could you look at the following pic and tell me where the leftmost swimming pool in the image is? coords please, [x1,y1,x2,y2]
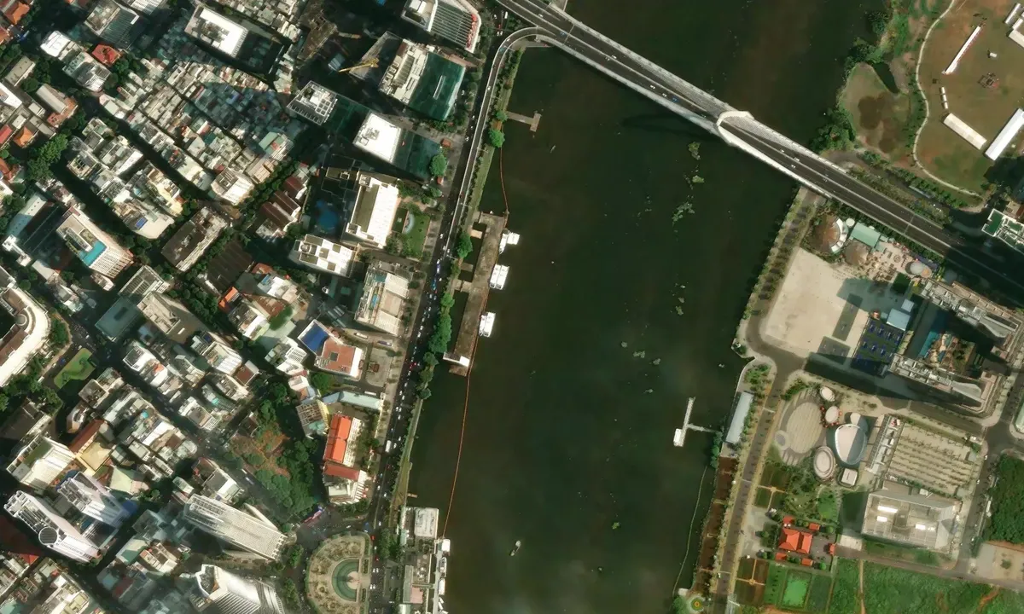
[80,240,107,266]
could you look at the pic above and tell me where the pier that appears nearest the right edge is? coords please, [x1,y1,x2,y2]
[673,397,721,446]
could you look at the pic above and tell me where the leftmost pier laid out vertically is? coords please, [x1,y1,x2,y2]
[415,540,451,614]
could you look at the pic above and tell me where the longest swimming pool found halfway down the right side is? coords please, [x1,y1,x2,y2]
[918,310,949,359]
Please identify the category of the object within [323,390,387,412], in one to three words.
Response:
shed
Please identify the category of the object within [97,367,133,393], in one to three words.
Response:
house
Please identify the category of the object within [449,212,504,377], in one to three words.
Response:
pier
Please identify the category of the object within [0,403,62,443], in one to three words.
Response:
building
